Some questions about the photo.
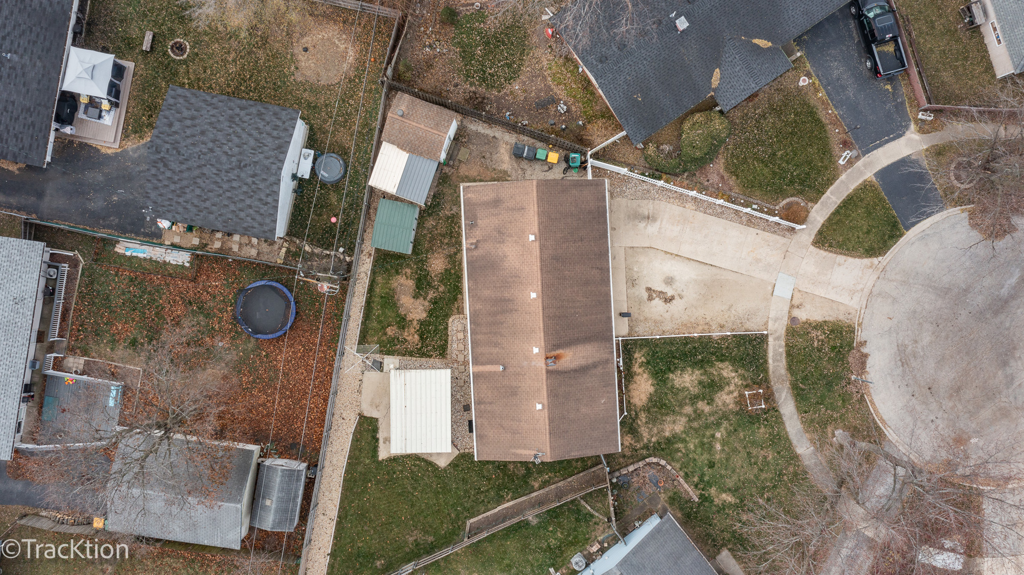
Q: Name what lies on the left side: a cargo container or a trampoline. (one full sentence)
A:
Looking on the left side, you will find a trampoline.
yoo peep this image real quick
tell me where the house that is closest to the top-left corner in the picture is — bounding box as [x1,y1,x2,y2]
[0,0,82,167]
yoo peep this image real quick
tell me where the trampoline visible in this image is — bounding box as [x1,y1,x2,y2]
[236,279,298,339]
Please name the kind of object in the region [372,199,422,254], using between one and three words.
shed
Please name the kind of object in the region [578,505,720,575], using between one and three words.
house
